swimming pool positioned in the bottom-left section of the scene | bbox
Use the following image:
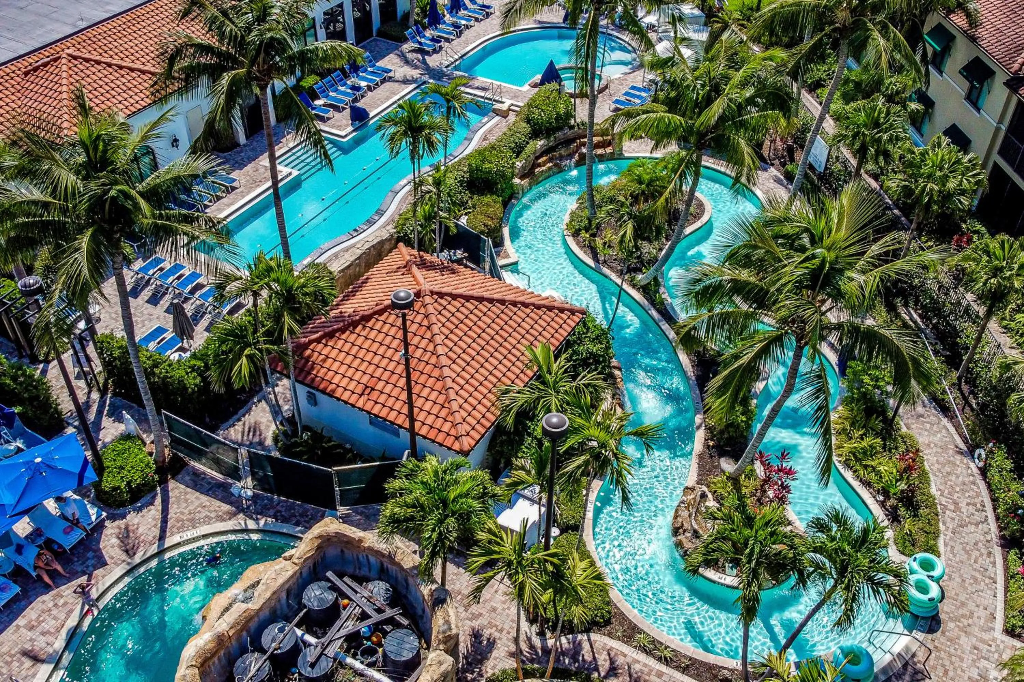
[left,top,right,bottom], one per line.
[61,540,317,682]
